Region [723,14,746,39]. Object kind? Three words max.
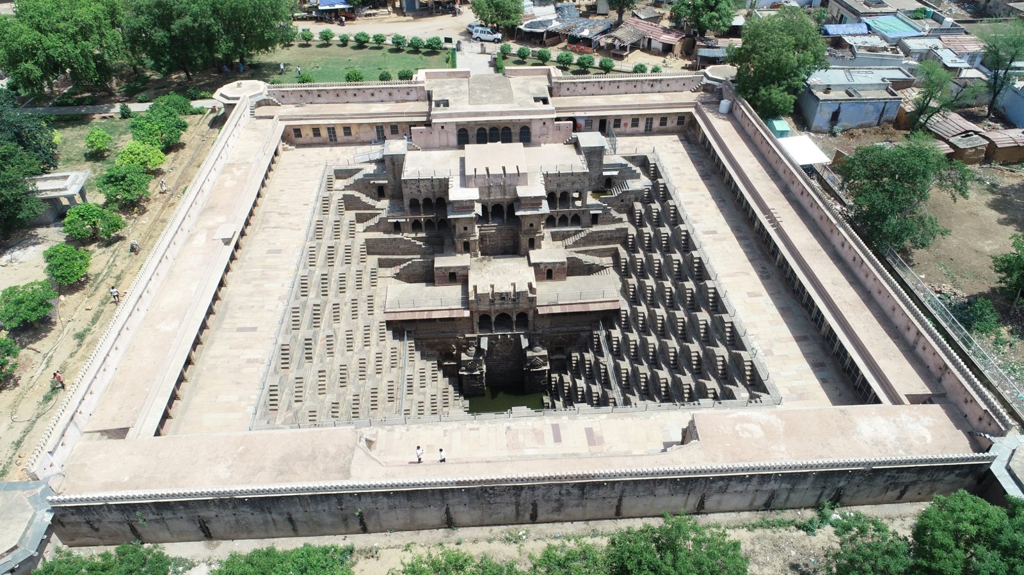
shed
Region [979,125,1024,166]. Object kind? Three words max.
shed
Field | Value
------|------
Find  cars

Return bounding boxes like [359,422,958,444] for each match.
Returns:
[464,21,487,31]
[473,24,506,41]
